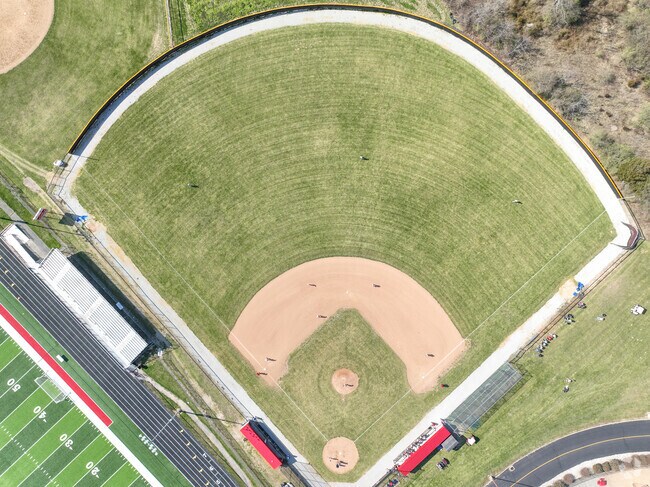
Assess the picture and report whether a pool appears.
No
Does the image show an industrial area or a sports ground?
sports ground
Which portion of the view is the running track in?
bottom left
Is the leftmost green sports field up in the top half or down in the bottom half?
bottom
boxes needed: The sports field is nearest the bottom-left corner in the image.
[0,281,194,487]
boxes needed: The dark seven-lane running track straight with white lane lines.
[0,229,243,487]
